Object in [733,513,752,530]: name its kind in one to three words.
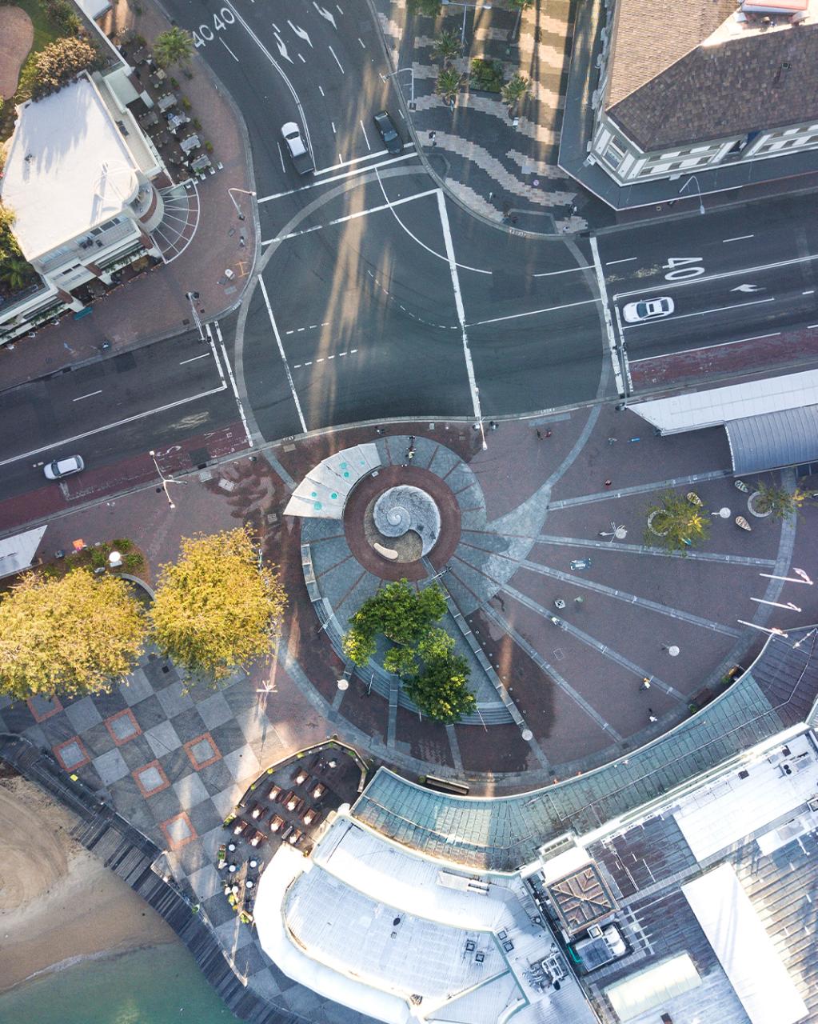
boat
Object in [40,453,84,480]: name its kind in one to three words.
car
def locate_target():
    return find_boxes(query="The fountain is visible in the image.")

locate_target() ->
[372,482,441,556]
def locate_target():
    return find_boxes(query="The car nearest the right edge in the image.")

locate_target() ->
[625,292,680,321]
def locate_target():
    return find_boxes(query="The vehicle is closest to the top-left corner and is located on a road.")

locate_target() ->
[282,117,316,174]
